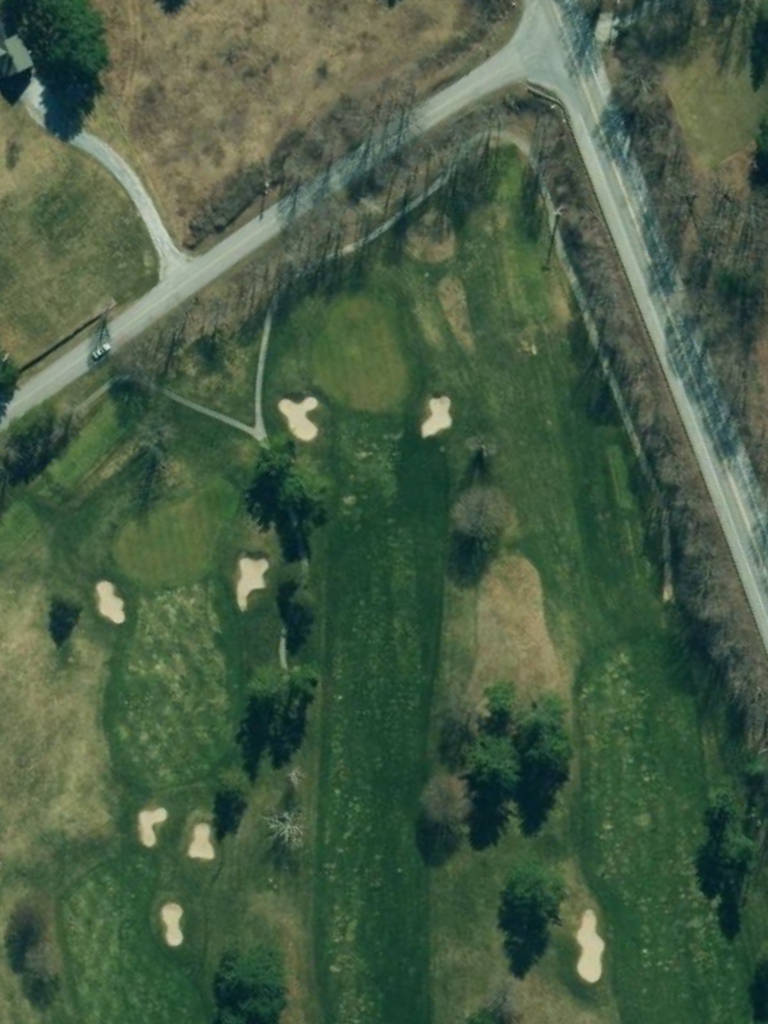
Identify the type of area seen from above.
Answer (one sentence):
What you see here is a golf course.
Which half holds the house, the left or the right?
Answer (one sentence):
You can find the house on the left side of the picture.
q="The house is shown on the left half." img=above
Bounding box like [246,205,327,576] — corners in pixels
[0,34,31,70]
